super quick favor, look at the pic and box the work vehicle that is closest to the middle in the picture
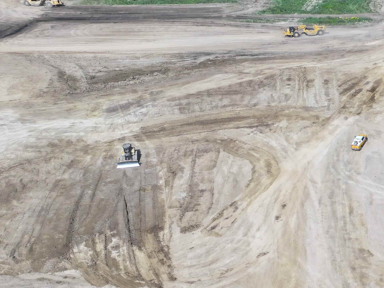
[115,143,140,167]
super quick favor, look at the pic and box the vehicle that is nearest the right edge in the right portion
[350,134,368,150]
